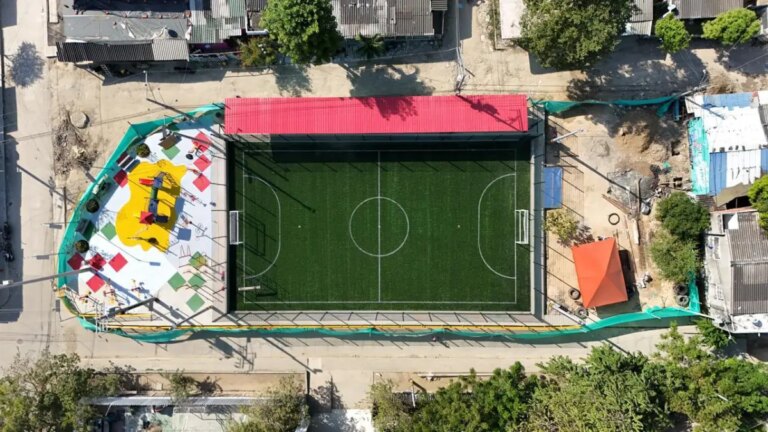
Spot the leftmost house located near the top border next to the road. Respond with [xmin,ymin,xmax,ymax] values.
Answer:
[57,0,192,67]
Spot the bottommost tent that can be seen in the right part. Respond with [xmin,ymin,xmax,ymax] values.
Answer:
[565,237,628,308]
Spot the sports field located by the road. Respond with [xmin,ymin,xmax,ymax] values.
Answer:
[230,140,530,311]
